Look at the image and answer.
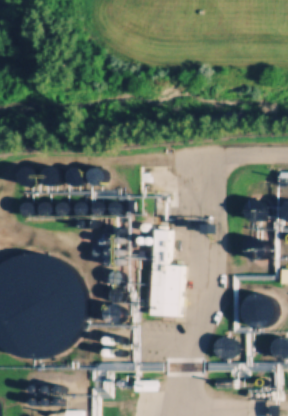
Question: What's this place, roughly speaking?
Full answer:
The picture captures an industrial area.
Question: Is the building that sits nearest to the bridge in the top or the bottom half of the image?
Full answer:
The building that sits nearest to the bridge sits in the bottom half of the picture.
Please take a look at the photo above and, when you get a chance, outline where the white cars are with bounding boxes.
[222,275,227,288]
[215,312,223,325]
